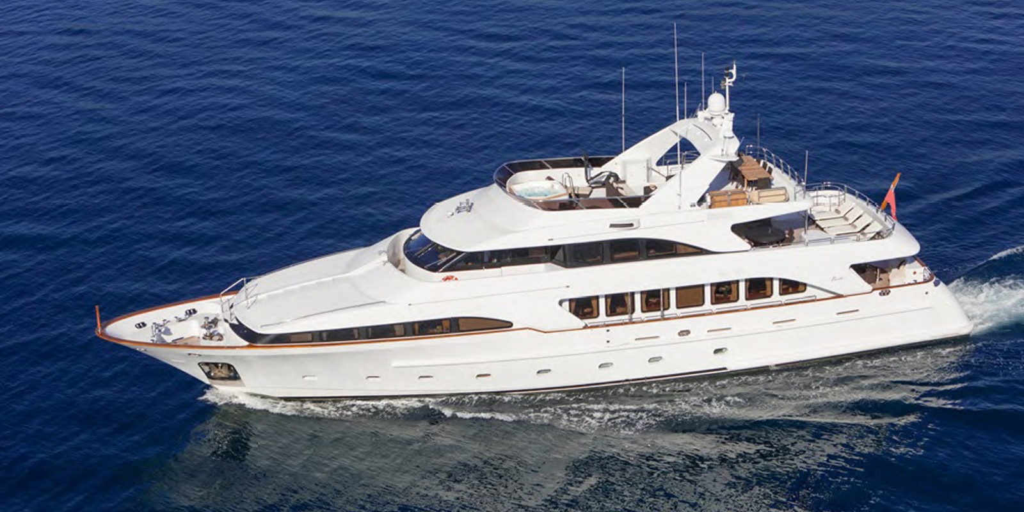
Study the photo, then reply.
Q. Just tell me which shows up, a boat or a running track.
boat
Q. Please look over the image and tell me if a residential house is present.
No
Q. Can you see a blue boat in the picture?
No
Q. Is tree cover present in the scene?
No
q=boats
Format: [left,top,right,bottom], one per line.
[95,24,968,397]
